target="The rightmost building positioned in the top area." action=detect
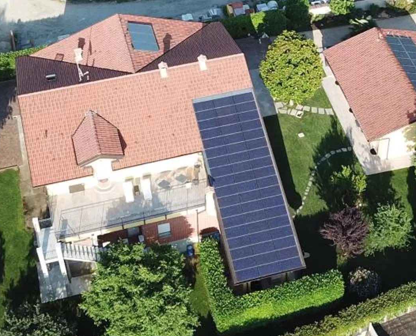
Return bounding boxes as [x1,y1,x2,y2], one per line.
[320,25,416,160]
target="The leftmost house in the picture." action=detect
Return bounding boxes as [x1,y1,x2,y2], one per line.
[16,12,316,300]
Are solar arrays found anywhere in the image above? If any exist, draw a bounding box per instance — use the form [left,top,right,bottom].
[387,31,416,89]
[190,88,312,285]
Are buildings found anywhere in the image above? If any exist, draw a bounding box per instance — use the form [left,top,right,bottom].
[320,25,416,160]
[16,12,316,300]
[378,312,416,336]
